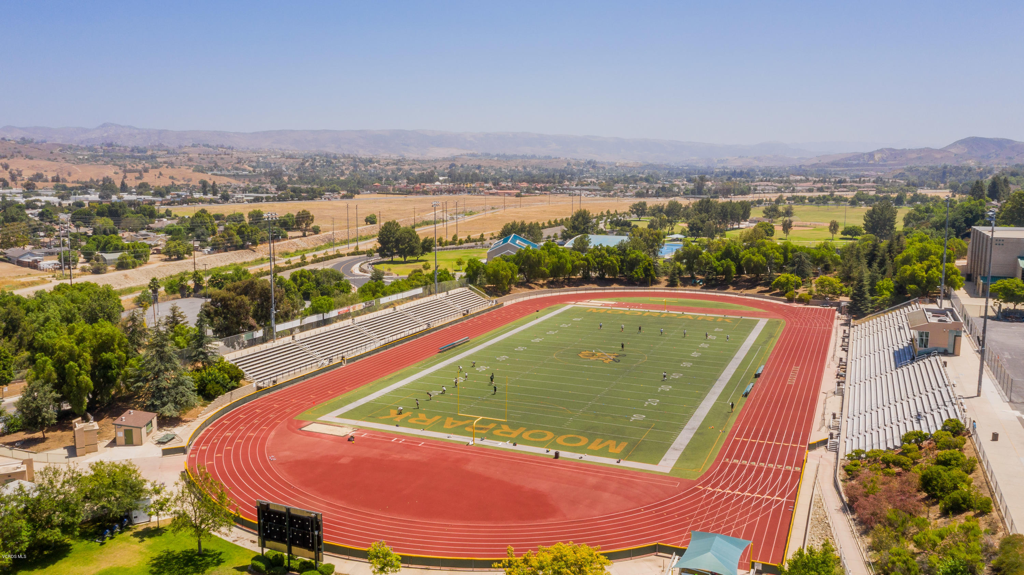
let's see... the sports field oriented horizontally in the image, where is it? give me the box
[294,303,787,479]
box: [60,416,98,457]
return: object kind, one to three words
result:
building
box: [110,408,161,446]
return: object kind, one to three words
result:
shed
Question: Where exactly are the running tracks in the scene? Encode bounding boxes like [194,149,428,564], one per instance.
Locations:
[186,291,836,565]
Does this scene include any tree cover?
Yes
